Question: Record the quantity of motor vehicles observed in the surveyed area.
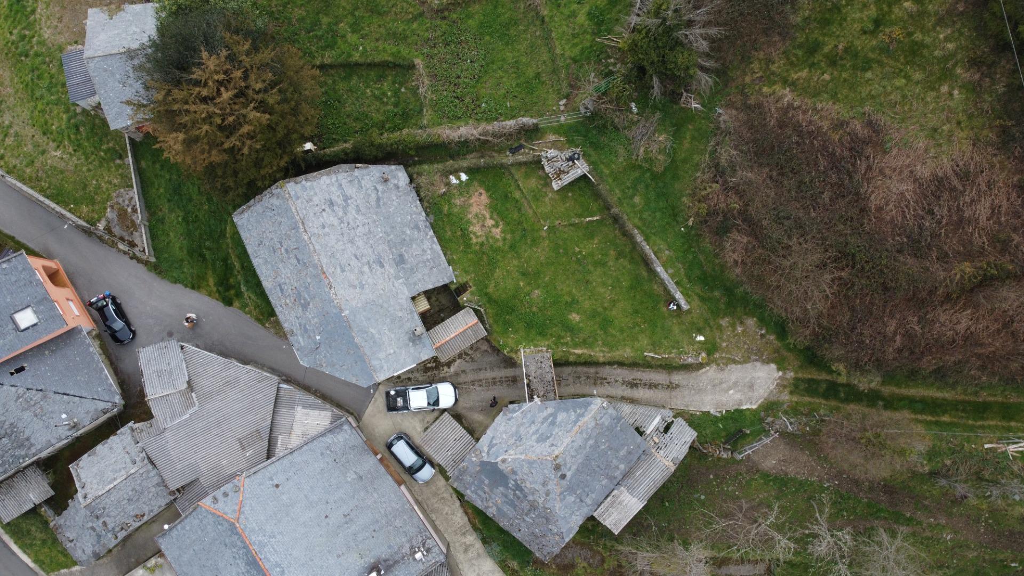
3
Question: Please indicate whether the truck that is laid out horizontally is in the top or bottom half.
bottom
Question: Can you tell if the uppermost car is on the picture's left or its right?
left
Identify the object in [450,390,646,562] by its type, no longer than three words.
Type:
house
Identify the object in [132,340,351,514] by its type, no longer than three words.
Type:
barn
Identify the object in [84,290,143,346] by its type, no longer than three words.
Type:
car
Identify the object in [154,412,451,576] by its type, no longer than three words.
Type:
house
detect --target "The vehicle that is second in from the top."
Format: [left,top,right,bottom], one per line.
[383,379,460,414]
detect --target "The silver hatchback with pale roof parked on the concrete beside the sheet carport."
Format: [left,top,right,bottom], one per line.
[385,430,435,483]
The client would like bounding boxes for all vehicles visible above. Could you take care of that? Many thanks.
[383,379,460,414]
[385,430,435,483]
[84,290,143,346]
